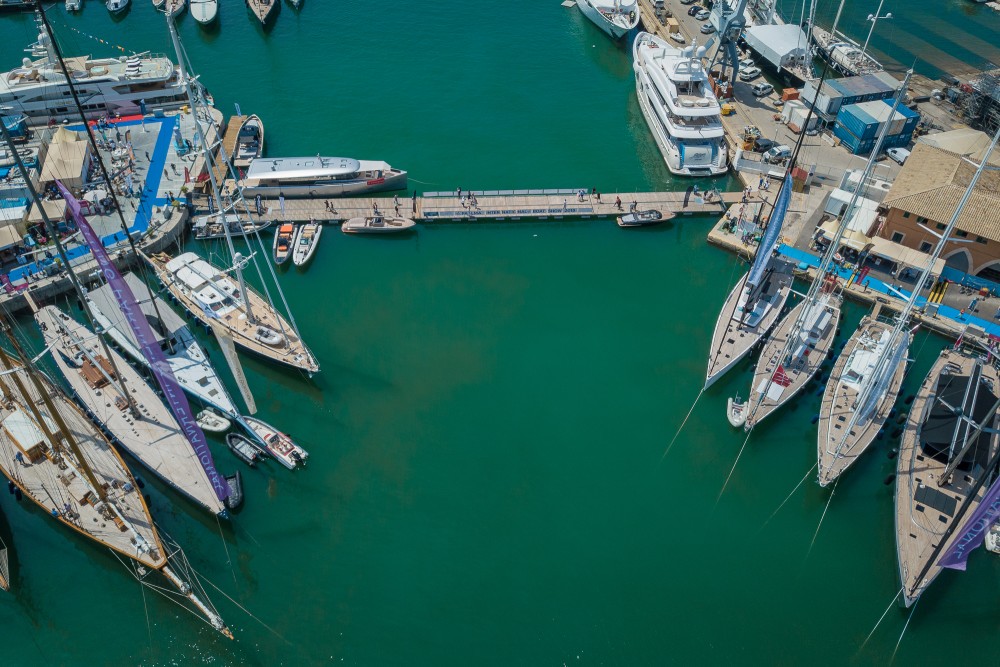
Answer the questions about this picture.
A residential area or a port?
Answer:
port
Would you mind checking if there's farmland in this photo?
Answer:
No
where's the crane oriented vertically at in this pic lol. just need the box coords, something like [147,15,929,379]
[701,0,763,91]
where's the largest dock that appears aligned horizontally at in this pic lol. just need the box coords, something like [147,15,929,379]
[185,175,723,227]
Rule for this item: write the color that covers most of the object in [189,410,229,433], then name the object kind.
white boat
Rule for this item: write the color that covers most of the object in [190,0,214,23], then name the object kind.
white boat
